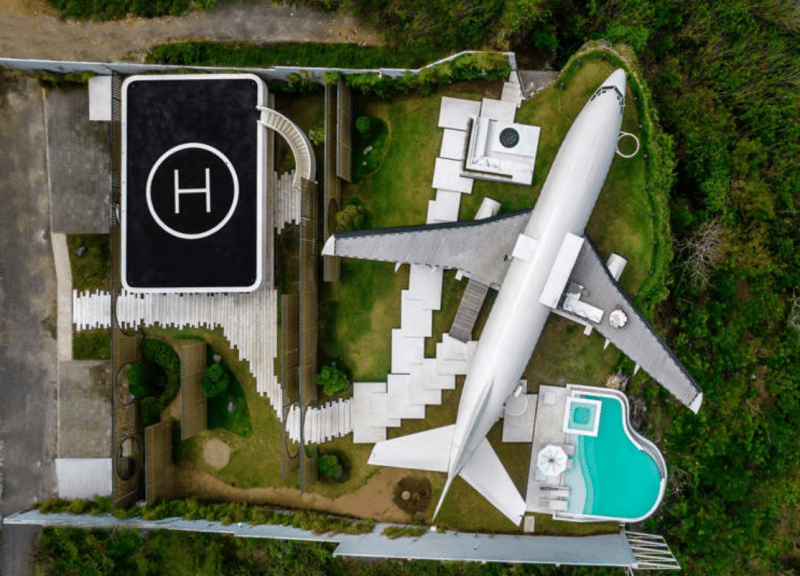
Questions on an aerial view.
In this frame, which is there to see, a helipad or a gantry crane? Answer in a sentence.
Of the two, only a helipad appears.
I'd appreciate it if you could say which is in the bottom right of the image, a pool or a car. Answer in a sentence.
There is a pool in the bottom right of the image.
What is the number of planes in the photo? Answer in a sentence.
The photo contains exactly 1 plane.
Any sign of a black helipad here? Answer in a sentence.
Yes, the image includes a black helipad.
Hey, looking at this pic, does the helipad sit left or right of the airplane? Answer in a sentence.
Relative to the airplane, the helipad is on the left.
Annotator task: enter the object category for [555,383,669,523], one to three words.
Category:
swimming pool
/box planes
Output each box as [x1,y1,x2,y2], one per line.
[323,70,702,526]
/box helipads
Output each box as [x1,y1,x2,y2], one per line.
[120,73,315,292]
